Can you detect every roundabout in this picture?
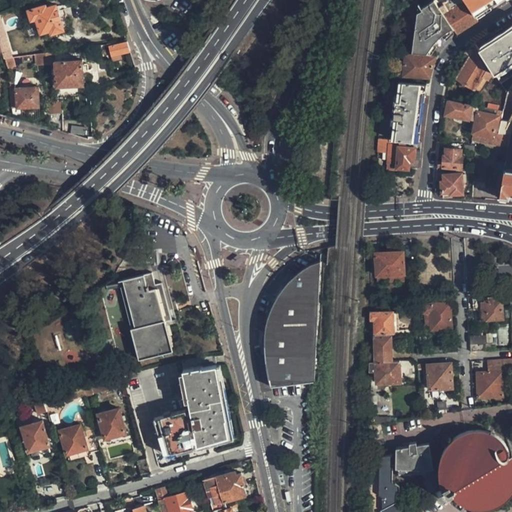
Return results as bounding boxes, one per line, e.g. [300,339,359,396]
[203,165,289,251]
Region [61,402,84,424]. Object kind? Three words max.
swimming pool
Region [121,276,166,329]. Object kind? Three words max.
building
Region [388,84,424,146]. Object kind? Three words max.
building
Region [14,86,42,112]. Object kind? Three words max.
house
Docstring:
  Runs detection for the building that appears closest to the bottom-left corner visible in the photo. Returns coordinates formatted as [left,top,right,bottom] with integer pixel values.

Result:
[19,420,52,456]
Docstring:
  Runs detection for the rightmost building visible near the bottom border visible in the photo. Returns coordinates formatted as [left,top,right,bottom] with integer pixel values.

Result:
[434,426,512,512]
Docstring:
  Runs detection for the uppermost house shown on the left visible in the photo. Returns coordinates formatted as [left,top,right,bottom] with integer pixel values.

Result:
[25,5,66,37]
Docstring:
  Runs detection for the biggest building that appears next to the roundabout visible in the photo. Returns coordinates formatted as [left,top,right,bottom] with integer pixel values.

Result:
[265,262,320,386]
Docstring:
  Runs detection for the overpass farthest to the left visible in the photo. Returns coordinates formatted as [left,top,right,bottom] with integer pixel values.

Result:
[0,0,274,278]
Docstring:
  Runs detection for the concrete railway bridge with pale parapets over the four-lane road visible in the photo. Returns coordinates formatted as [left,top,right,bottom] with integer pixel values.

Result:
[324,193,369,256]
